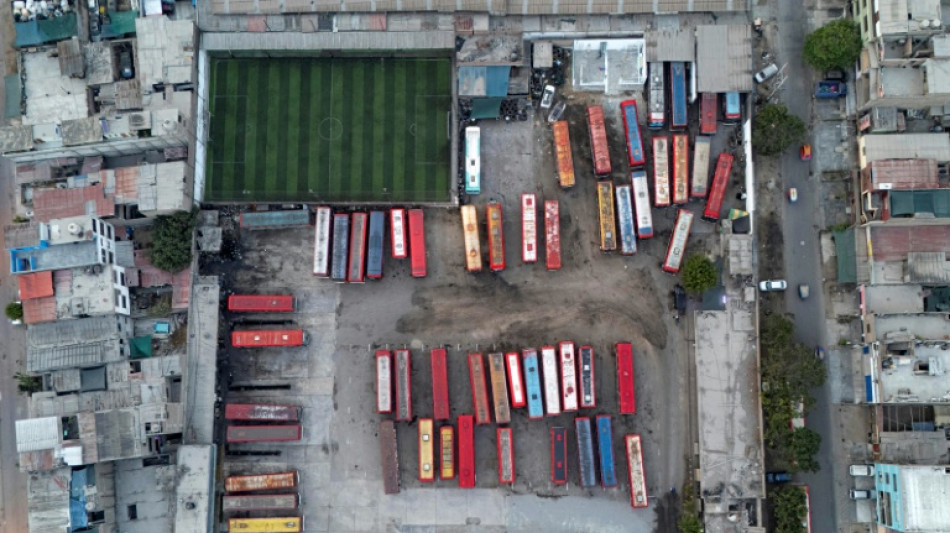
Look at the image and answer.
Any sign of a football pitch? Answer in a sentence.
Yes, you can see a football pitch in this photo.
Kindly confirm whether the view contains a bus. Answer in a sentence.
Yes, the picture does show a bus.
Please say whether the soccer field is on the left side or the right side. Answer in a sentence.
The soccer field sits on the left side.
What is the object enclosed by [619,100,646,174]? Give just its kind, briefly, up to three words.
bus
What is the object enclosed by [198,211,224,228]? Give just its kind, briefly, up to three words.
shed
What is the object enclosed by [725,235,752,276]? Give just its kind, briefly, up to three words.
shed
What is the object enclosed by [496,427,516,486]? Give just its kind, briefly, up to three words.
vehicle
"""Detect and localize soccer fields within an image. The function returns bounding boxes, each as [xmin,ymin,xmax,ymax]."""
[205,57,451,199]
